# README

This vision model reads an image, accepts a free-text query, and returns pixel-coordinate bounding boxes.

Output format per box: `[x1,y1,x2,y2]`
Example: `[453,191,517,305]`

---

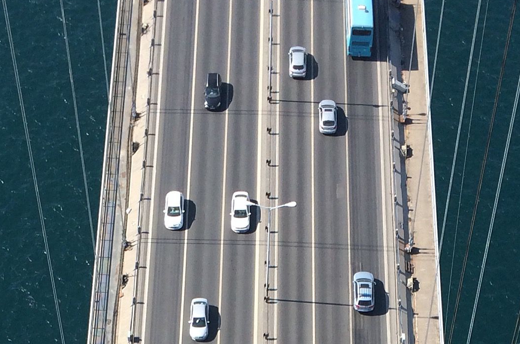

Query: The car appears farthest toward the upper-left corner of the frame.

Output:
[203,75,223,112]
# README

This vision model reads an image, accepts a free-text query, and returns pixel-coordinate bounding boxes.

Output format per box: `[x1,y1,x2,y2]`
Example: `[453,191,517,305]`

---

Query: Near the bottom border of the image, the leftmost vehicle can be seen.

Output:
[188,299,210,343]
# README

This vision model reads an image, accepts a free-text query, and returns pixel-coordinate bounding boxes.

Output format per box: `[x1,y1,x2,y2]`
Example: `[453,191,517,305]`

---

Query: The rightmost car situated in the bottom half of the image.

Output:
[353,273,376,314]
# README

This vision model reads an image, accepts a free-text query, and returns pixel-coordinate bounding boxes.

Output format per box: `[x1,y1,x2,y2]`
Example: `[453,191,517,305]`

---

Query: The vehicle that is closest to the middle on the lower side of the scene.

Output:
[229,195,252,235]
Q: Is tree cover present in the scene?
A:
No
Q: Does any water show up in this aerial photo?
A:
Yes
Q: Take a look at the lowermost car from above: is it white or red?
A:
white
